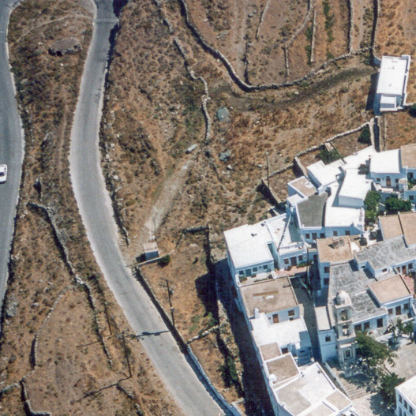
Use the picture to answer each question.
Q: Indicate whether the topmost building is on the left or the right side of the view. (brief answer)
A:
left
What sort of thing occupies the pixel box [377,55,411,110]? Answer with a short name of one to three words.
house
